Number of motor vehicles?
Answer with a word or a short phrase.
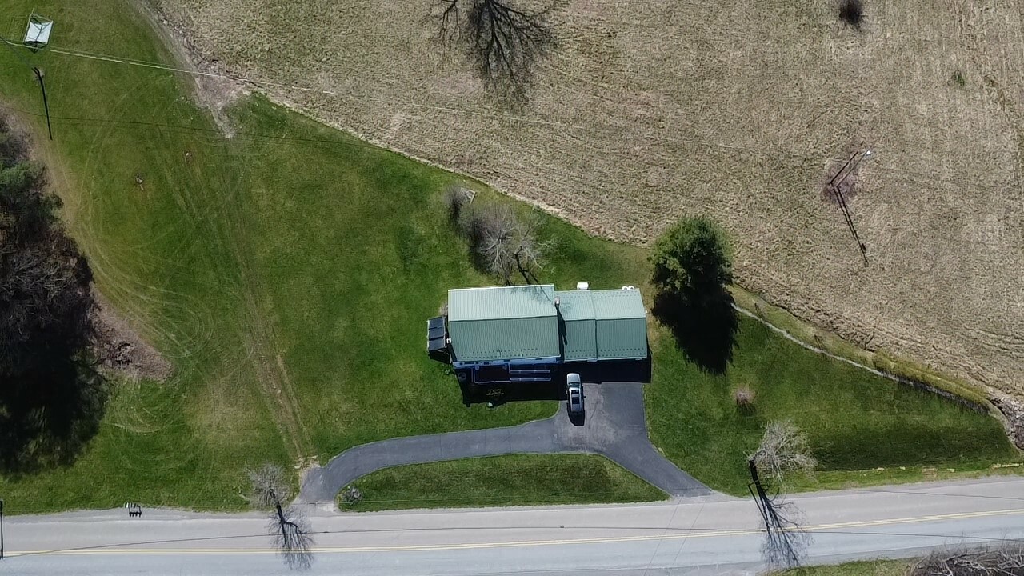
1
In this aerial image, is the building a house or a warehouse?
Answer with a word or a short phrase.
house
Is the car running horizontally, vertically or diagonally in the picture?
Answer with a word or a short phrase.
vertically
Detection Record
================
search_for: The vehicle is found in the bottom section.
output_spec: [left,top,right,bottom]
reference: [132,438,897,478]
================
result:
[566,372,586,415]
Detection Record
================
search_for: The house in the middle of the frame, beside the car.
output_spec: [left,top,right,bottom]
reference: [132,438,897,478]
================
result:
[447,284,648,371]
